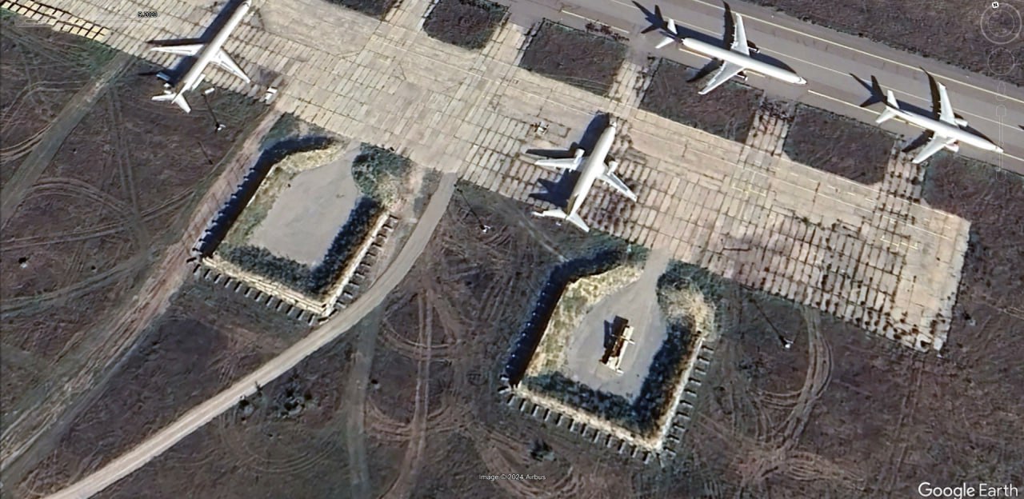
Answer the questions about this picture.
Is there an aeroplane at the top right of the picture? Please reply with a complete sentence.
Yes, the scene does show an aeroplane at the top right of the picture.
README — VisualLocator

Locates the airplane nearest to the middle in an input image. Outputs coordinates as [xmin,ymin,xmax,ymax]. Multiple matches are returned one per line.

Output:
[533,121,637,232]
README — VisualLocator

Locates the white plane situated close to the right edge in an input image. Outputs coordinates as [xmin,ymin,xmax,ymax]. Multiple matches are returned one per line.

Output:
[878,81,1005,163]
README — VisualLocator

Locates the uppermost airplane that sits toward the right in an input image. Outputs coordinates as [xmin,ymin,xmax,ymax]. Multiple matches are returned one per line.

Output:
[656,14,808,93]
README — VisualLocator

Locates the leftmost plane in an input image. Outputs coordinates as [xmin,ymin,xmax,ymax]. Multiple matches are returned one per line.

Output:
[148,0,251,111]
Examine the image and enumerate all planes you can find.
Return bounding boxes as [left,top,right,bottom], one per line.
[656,14,808,93]
[148,0,251,111]
[533,121,637,232]
[878,81,1005,163]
